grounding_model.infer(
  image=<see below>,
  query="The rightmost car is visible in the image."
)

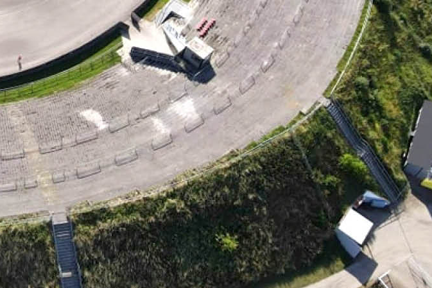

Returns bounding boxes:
[363,193,394,215]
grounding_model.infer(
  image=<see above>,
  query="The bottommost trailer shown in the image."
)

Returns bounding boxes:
[331,208,374,254]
